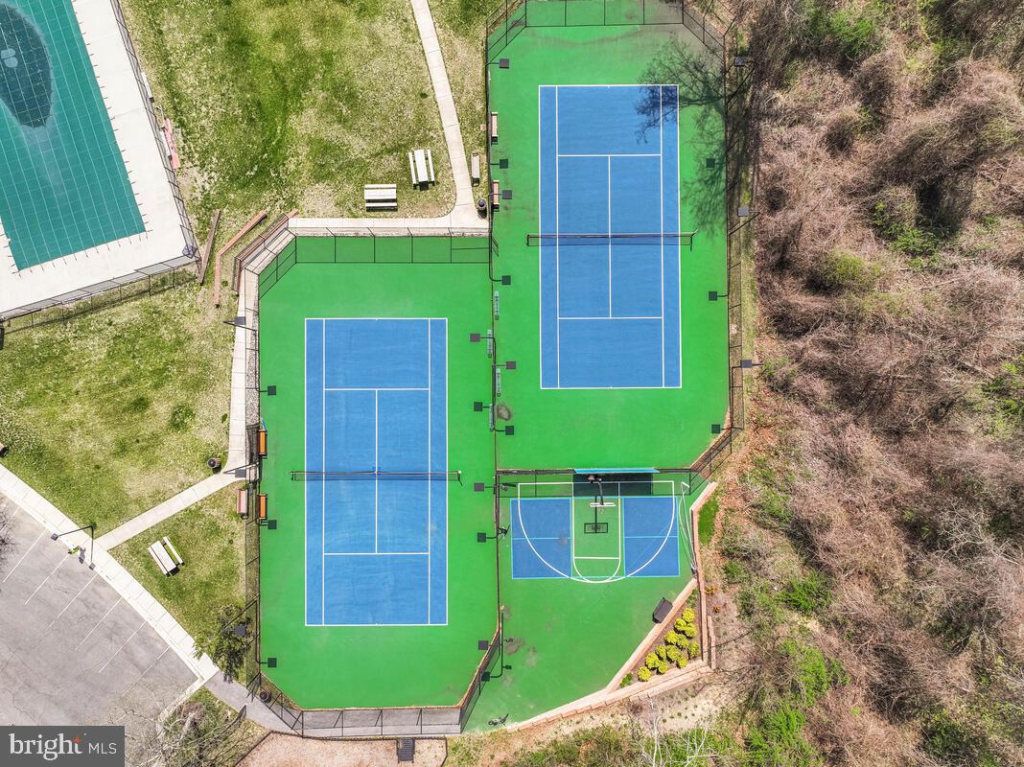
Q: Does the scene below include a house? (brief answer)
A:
No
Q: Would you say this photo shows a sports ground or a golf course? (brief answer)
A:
sports ground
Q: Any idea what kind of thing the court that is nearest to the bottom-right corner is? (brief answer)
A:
basketball court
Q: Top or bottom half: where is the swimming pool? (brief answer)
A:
top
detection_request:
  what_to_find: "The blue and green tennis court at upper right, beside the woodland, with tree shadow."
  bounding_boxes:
[489,0,733,471]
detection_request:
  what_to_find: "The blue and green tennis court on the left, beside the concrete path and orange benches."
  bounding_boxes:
[259,236,499,712]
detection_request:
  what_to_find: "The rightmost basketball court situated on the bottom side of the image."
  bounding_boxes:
[460,469,712,734]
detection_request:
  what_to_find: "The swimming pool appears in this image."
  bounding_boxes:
[0,0,149,273]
